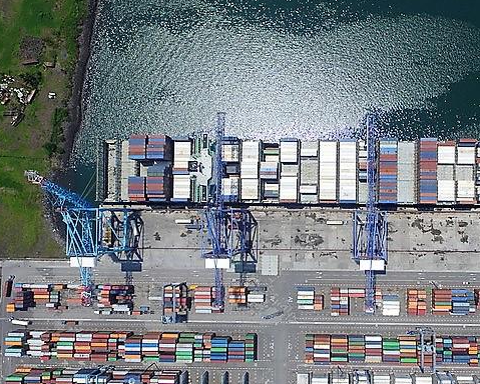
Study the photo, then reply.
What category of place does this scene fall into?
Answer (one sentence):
This image shows a port.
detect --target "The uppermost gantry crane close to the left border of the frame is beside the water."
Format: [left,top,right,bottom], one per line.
[19,169,138,310]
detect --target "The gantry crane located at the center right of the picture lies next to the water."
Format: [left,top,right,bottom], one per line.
[346,112,388,312]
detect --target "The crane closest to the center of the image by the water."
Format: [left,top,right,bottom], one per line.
[203,111,253,311]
